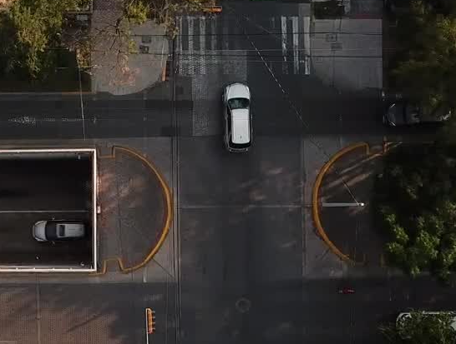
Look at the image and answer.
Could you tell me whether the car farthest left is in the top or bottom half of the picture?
bottom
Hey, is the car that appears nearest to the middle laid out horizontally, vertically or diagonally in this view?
vertically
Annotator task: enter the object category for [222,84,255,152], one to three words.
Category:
car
